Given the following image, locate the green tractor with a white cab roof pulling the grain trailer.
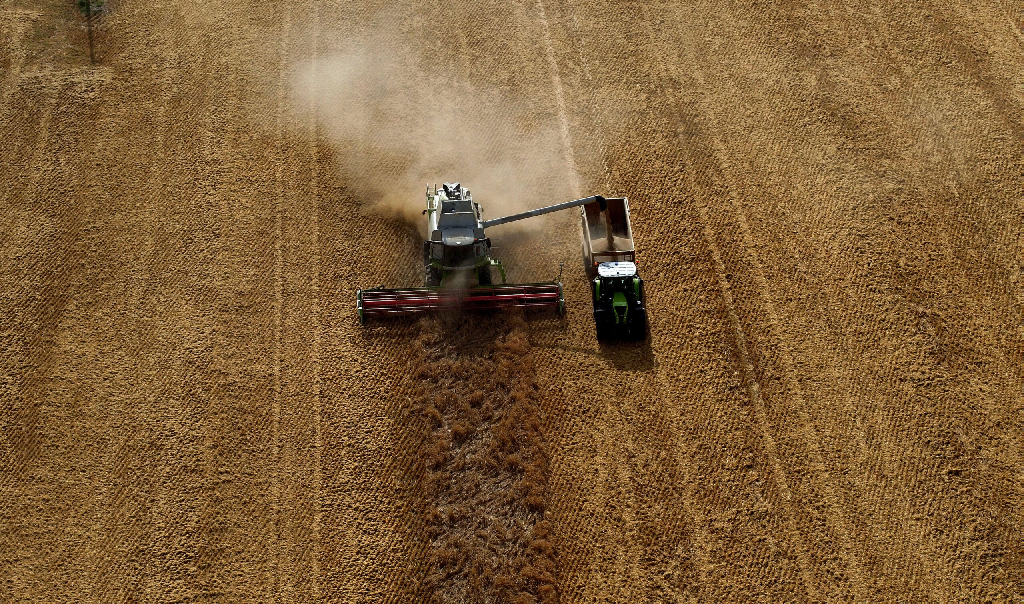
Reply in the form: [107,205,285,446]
[588,258,646,340]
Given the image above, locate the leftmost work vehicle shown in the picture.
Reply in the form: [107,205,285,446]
[355,181,606,327]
